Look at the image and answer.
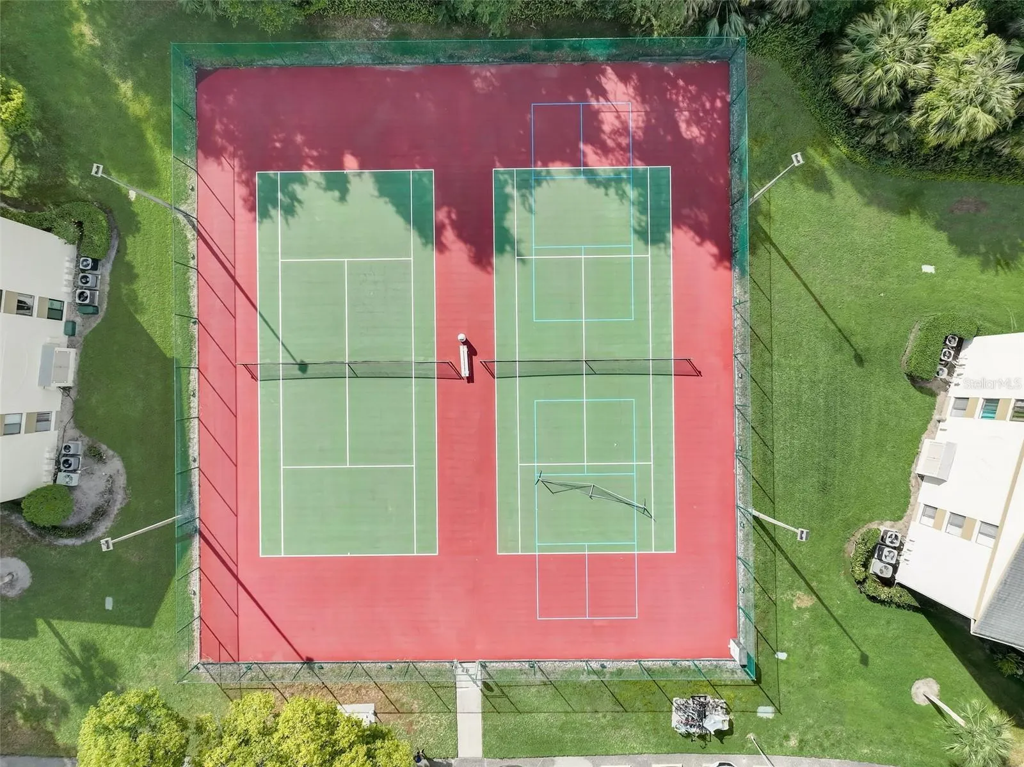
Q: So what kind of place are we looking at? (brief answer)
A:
sports ground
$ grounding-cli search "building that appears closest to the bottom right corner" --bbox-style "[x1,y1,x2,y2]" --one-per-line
[895,331,1024,645]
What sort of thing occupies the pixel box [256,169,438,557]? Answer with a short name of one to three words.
tennis court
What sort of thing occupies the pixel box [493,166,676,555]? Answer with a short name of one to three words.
tennis court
